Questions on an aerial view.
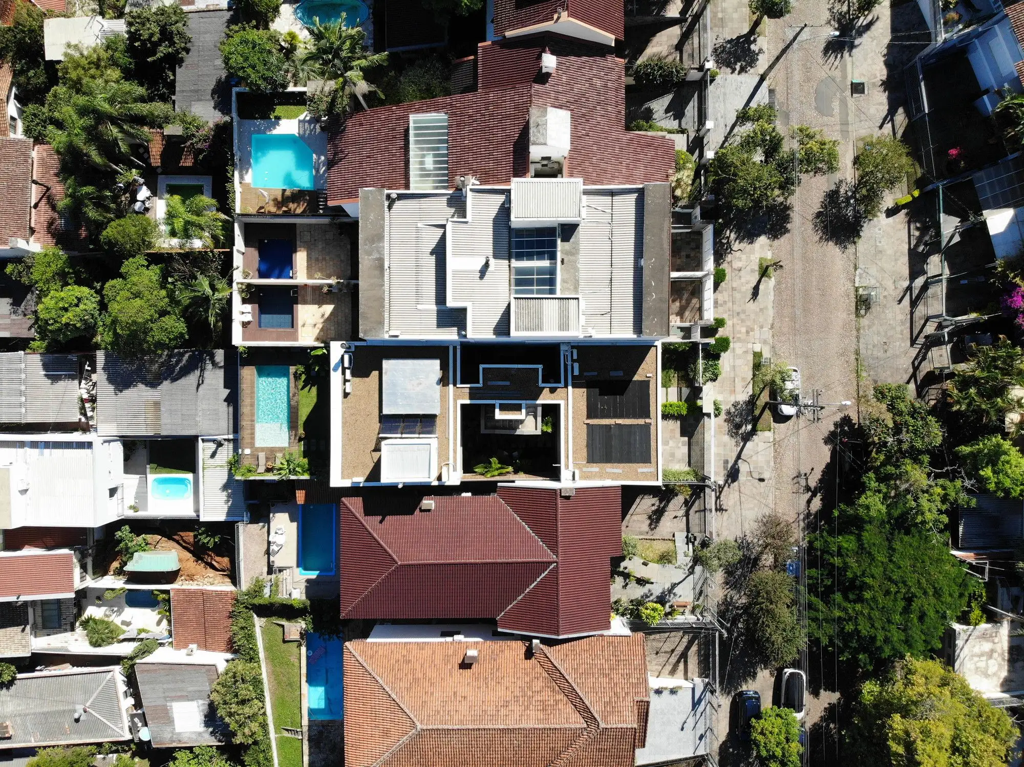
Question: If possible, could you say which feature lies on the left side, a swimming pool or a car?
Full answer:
There is a swimming pool on the left side.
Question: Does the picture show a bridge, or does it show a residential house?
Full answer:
This aerial view contains a residential house.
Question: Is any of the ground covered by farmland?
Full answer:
No, the picture contains no farmland.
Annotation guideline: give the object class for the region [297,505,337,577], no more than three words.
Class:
swimming pool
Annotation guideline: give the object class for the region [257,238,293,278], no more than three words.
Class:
swimming pool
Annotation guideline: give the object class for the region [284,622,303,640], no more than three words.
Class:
shed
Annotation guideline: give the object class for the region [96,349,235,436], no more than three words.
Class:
house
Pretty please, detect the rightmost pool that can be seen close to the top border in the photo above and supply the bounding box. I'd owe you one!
[293,0,371,30]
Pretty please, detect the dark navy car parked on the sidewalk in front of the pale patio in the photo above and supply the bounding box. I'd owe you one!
[734,685,760,738]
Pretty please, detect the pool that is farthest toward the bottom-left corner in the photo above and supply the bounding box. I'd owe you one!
[125,589,161,609]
